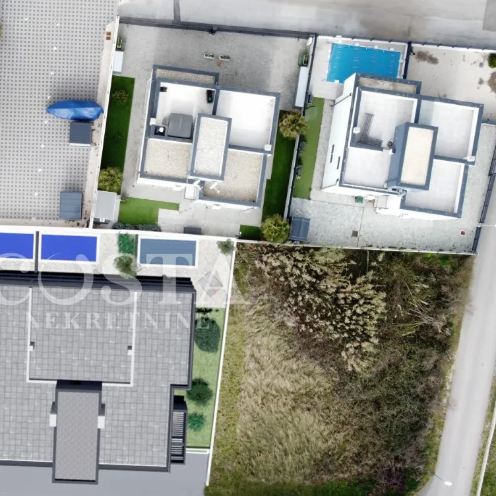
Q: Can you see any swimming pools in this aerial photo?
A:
Yes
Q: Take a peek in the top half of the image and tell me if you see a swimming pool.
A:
Yes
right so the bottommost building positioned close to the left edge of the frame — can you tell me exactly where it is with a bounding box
[0,270,196,485]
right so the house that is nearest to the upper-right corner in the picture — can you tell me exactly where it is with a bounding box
[320,72,485,222]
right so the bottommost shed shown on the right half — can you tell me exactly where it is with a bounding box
[286,217,310,240]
